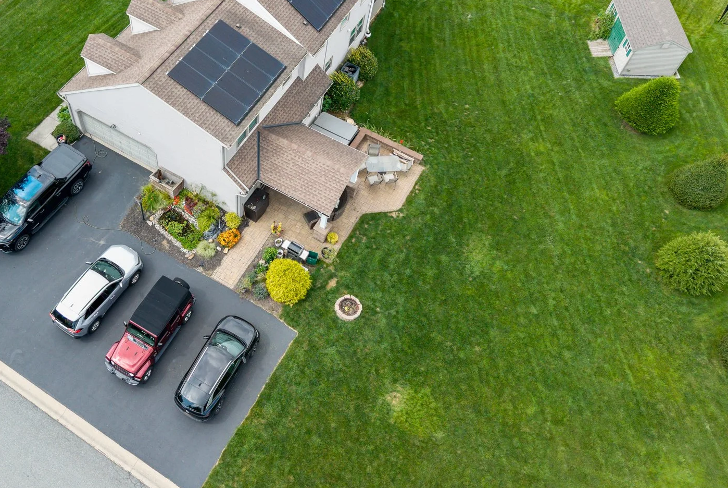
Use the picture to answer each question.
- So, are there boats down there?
No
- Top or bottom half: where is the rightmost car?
bottom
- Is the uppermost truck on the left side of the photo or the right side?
left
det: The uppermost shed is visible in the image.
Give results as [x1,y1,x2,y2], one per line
[596,0,693,79]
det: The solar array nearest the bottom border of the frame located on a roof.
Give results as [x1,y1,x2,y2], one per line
[168,19,285,123]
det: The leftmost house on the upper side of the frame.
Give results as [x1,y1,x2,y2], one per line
[54,0,387,214]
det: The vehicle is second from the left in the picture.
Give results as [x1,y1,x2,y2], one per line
[50,243,143,340]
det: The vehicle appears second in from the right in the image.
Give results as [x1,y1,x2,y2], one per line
[102,279,194,386]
